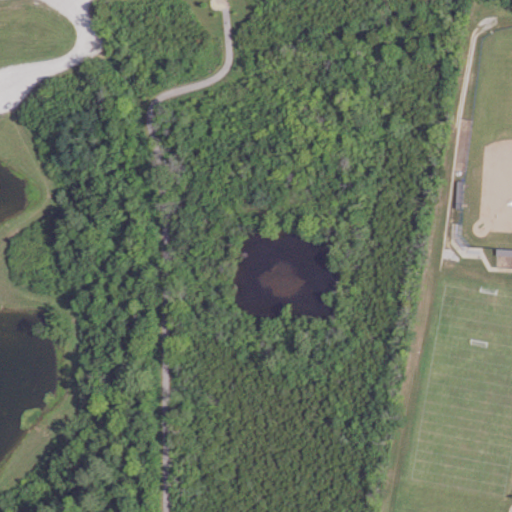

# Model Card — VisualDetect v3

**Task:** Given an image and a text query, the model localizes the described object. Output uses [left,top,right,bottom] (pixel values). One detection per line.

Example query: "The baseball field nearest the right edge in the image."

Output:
[462,27,512,246]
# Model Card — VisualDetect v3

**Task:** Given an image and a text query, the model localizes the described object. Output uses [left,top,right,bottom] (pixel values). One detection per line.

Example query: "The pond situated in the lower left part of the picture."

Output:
[0,310,56,474]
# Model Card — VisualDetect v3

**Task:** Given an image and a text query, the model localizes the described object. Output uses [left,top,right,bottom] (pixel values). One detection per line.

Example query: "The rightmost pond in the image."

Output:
[232,231,338,320]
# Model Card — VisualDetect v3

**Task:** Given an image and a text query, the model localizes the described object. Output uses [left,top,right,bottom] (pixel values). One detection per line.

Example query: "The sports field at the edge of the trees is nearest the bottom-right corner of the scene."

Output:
[406,278,512,502]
